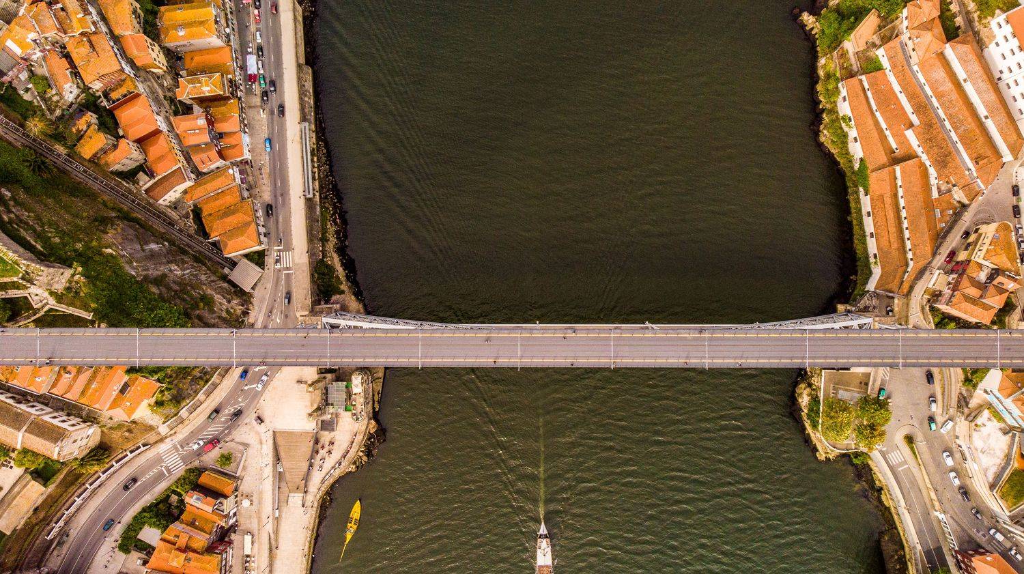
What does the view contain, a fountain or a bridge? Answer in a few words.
bridge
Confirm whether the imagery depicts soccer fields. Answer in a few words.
No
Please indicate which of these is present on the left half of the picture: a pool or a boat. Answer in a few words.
boat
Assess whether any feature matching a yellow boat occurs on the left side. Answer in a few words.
Yes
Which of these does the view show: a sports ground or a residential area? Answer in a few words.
residential area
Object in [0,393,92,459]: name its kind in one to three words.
building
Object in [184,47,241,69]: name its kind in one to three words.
house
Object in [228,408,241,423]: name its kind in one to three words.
vehicle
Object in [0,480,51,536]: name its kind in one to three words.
shed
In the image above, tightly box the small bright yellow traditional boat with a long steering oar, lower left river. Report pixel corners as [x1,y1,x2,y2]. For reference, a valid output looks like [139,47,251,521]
[340,500,360,562]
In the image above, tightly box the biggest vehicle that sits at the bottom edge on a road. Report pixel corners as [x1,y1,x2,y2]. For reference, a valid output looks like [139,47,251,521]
[993,529,1014,551]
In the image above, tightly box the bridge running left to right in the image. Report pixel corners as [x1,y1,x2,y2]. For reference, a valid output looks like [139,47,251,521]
[0,306,1024,368]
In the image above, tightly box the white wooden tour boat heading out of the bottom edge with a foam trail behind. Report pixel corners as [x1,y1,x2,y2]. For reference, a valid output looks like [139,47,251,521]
[532,524,553,574]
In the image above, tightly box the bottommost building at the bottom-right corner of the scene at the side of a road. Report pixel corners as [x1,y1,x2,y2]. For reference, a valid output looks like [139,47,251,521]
[952,542,1016,574]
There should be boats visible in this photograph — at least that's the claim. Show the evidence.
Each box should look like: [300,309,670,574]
[532,524,553,574]
[340,500,360,562]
